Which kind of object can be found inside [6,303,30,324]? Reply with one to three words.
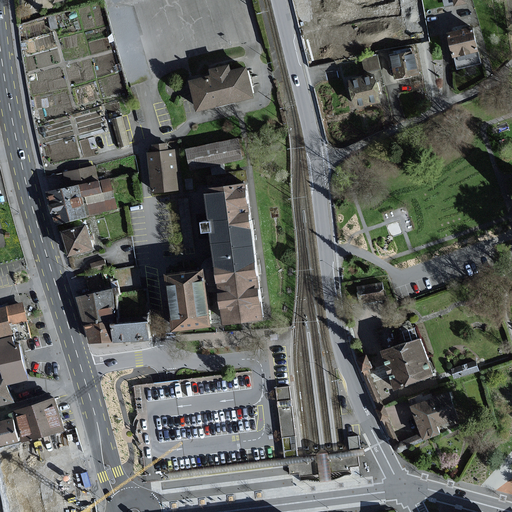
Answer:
house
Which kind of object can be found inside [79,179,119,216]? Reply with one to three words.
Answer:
building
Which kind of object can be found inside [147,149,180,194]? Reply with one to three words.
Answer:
house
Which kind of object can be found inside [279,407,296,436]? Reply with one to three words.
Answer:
building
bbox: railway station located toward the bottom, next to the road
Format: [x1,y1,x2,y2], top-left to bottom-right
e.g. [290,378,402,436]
[262,316,366,482]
